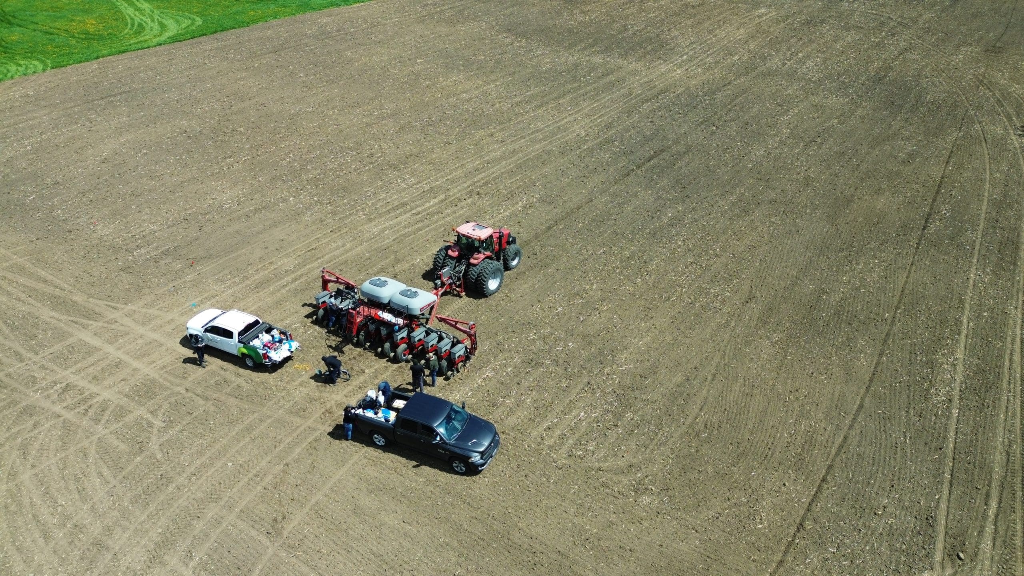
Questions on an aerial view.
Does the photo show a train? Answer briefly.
No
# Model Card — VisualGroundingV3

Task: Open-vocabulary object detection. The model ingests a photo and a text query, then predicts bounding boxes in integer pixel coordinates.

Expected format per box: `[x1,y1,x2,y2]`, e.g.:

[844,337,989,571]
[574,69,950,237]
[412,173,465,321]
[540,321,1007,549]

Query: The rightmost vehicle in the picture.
[433,218,525,297]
